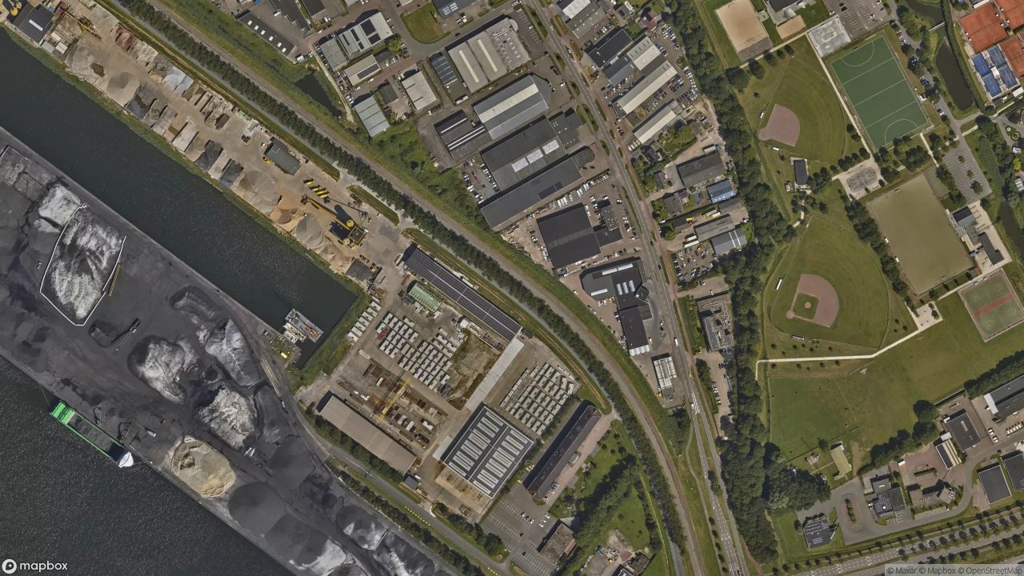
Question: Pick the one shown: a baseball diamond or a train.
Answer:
baseball diamond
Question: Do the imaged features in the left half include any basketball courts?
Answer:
No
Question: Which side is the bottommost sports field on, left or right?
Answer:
right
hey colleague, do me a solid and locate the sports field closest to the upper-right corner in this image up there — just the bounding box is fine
[827,32,933,153]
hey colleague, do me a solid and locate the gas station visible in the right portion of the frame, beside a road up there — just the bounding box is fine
[653,356,677,397]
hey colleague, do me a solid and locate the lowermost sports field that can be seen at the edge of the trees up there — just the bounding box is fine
[769,377,859,463]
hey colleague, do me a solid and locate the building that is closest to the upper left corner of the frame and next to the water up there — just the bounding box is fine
[12,3,55,47]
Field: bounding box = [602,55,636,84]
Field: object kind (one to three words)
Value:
building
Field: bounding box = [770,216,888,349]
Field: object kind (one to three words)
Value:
baseball field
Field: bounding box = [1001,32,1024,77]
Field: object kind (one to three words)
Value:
tennis court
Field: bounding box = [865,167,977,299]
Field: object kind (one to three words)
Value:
sports field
